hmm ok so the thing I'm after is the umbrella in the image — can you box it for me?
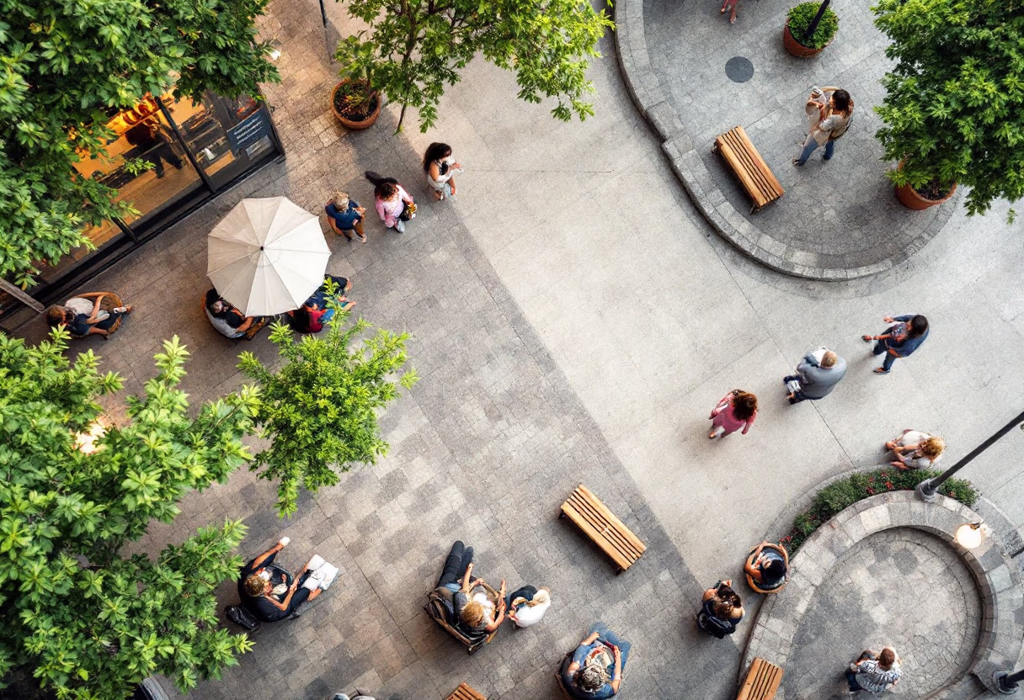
[207,200,332,316]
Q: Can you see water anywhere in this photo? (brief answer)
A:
No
